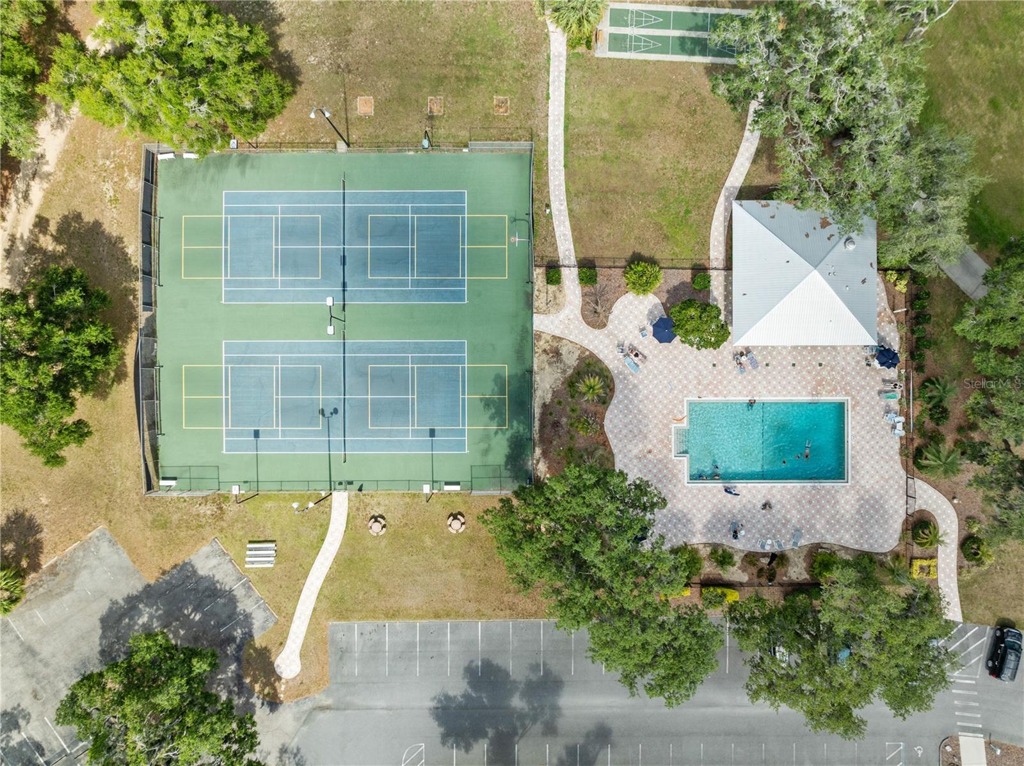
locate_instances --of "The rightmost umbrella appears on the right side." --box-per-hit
[872,346,897,370]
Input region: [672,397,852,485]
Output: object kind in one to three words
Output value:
swimming pool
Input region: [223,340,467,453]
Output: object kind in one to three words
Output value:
tennis court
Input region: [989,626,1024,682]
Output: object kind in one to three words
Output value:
car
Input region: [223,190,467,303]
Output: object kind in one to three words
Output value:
tennis court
